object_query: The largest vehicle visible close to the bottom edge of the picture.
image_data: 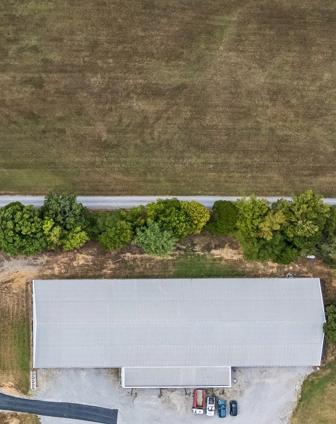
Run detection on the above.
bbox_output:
[192,390,206,414]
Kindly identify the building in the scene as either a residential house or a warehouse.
warehouse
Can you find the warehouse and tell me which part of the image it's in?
bottom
